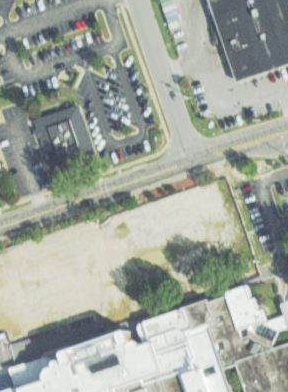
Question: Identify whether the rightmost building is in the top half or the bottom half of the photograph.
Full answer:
You can find the rightmost building in the top half.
